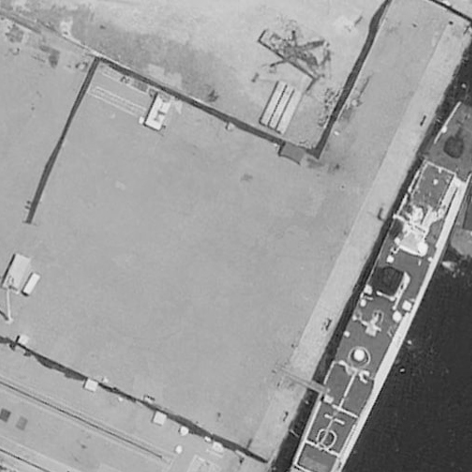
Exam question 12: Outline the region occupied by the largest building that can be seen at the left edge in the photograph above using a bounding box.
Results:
[3,253,33,295]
